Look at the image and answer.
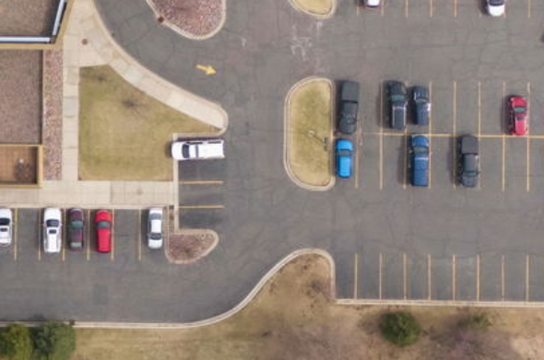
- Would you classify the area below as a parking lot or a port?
parking lot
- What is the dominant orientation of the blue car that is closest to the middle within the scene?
vertically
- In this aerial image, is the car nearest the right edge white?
No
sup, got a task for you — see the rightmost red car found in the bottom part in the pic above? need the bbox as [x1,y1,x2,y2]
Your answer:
[94,208,114,253]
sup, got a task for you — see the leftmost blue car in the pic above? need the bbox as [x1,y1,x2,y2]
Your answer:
[335,138,355,178]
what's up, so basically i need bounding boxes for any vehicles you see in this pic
[336,78,360,134]
[386,80,409,130]
[94,208,114,253]
[42,207,63,254]
[410,84,431,125]
[361,0,380,8]
[483,0,506,16]
[171,138,226,161]
[335,138,355,178]
[0,207,14,245]
[506,93,528,136]
[456,134,480,188]
[66,207,87,251]
[144,207,166,250]
[408,134,431,188]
